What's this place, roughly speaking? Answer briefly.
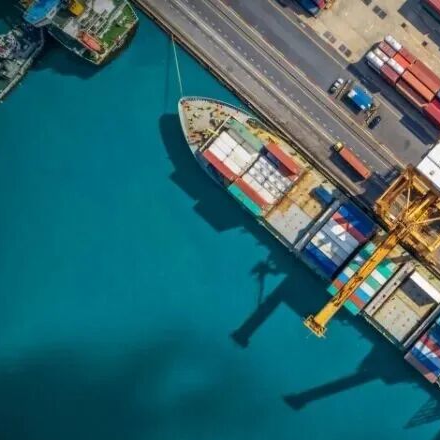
port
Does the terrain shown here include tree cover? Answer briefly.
No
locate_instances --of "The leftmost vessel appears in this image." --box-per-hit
[0,0,41,94]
